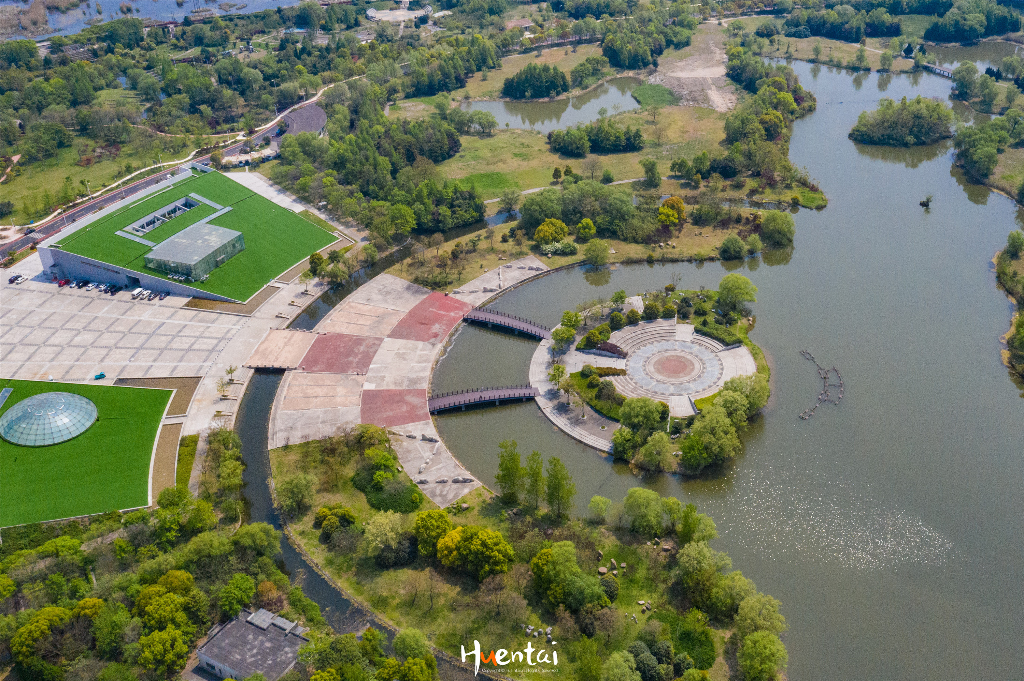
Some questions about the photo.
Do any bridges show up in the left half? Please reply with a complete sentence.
Yes, there is a bridge in the left half.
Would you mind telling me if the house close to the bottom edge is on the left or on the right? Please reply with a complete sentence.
It is on the left.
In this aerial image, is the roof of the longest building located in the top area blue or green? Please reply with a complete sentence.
From above, the roof of the longest building located in the top area appears green.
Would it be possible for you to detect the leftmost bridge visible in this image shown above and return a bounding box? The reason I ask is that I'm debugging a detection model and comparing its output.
[240,325,327,369]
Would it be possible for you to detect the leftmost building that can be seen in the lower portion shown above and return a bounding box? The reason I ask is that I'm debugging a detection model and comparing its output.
[0,378,179,533]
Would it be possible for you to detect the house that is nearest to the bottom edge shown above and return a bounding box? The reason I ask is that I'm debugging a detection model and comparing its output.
[196,609,310,681]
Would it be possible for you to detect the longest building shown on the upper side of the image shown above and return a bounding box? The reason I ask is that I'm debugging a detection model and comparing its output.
[24,159,345,306]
